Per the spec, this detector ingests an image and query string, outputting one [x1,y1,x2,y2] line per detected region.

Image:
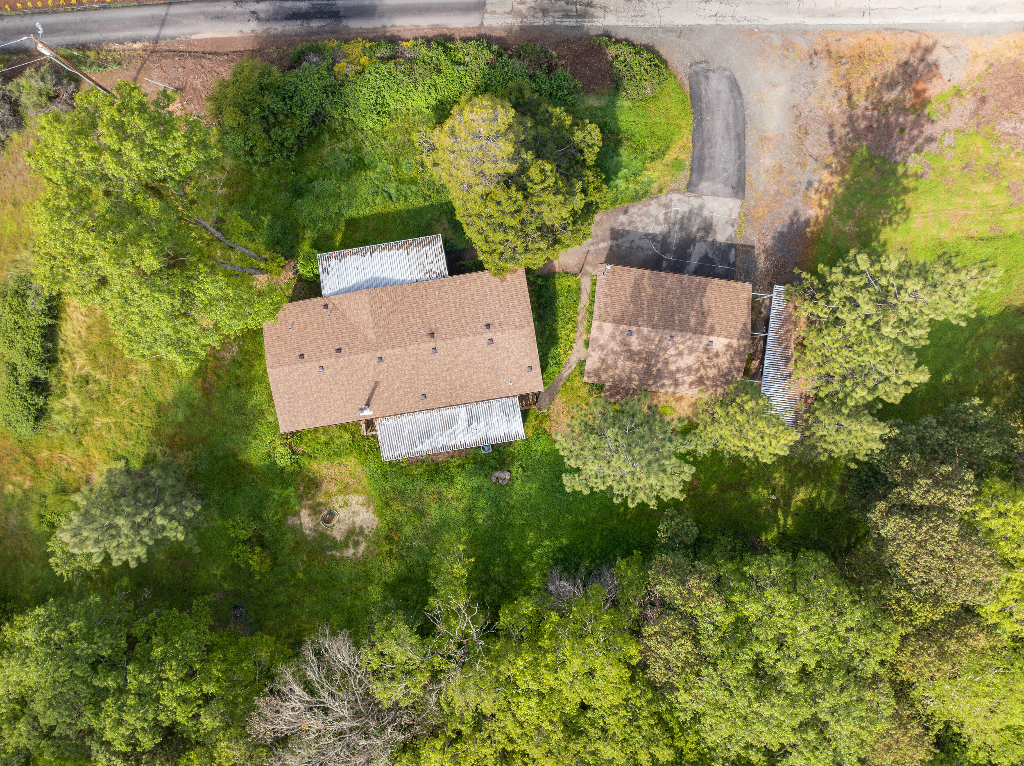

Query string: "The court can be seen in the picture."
[541,191,743,279]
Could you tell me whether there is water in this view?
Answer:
No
